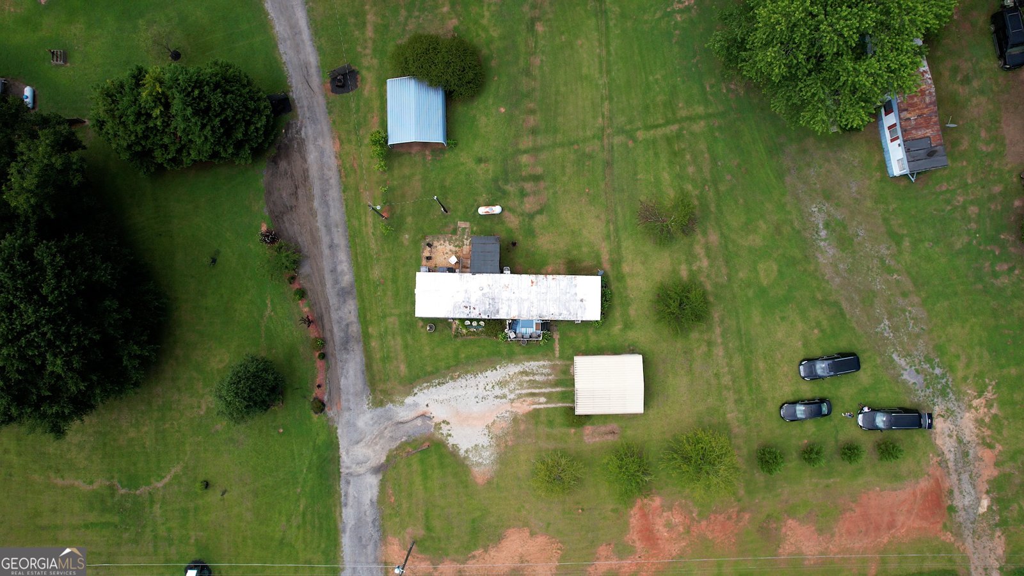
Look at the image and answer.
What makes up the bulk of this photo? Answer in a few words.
grass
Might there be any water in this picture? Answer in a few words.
No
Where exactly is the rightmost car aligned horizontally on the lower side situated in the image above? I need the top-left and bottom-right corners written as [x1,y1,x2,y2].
[855,407,934,434]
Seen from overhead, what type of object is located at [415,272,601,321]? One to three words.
house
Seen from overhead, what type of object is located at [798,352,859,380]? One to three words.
car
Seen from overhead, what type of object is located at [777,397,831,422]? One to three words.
car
